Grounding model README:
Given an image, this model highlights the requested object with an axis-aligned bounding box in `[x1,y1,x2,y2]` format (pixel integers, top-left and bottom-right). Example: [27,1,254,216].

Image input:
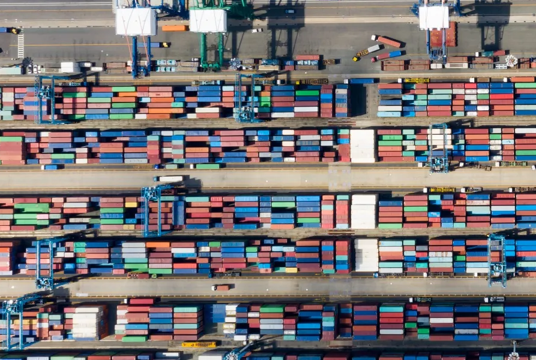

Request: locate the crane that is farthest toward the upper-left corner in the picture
[35,74,86,125]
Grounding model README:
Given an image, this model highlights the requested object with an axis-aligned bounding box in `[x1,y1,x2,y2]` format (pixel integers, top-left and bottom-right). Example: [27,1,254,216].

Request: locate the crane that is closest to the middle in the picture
[233,73,274,123]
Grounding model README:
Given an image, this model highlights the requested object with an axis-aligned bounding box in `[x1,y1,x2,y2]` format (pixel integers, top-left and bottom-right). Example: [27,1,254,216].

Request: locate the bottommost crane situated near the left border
[2,293,54,352]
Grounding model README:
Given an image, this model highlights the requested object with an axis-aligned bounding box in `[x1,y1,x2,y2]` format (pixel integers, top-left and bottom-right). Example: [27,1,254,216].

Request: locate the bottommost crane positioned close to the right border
[482,230,514,288]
